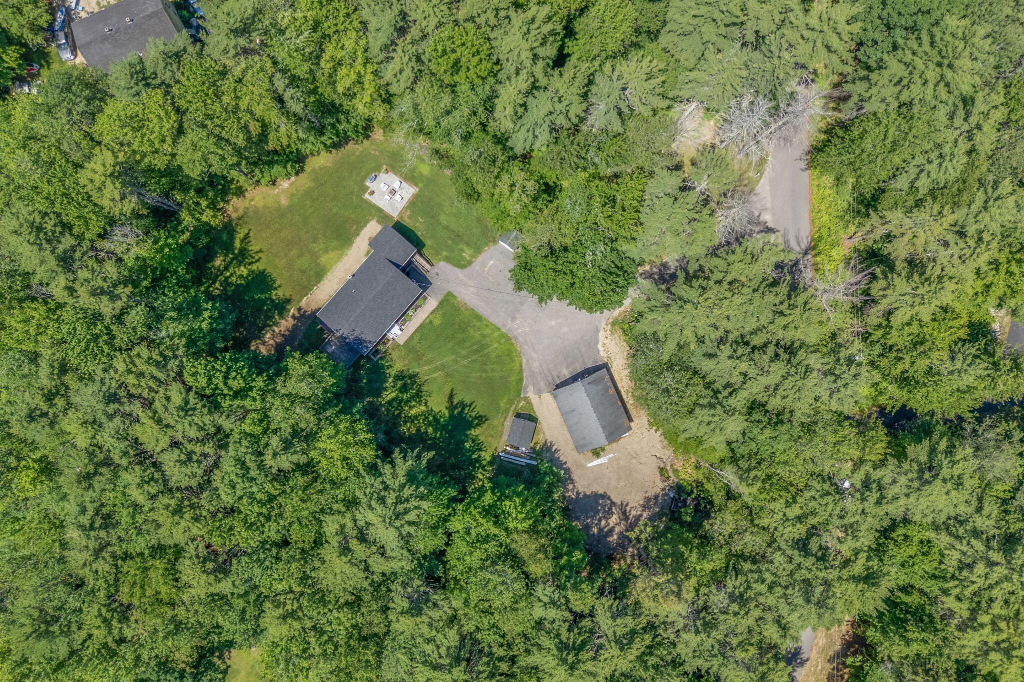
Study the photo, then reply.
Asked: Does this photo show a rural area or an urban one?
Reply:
rural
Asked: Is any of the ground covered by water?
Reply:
No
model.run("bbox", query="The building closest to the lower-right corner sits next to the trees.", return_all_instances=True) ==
[553,368,632,453]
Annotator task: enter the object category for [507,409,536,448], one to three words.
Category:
shed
